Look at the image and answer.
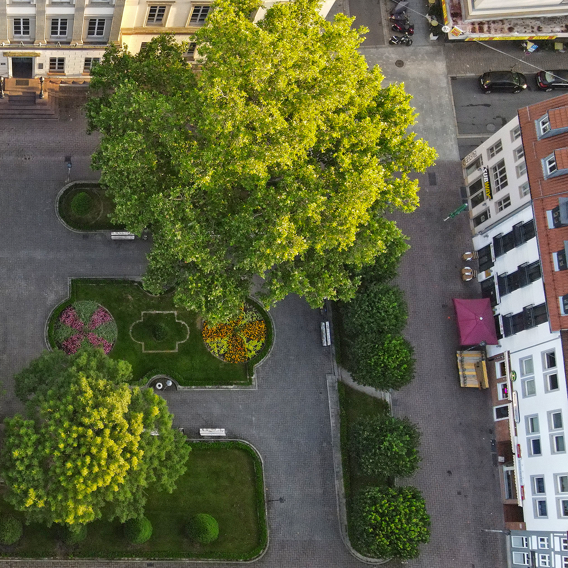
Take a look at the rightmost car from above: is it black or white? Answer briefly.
black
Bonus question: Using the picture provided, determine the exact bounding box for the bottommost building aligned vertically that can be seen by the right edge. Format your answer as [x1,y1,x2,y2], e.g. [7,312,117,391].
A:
[483,330,568,529]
